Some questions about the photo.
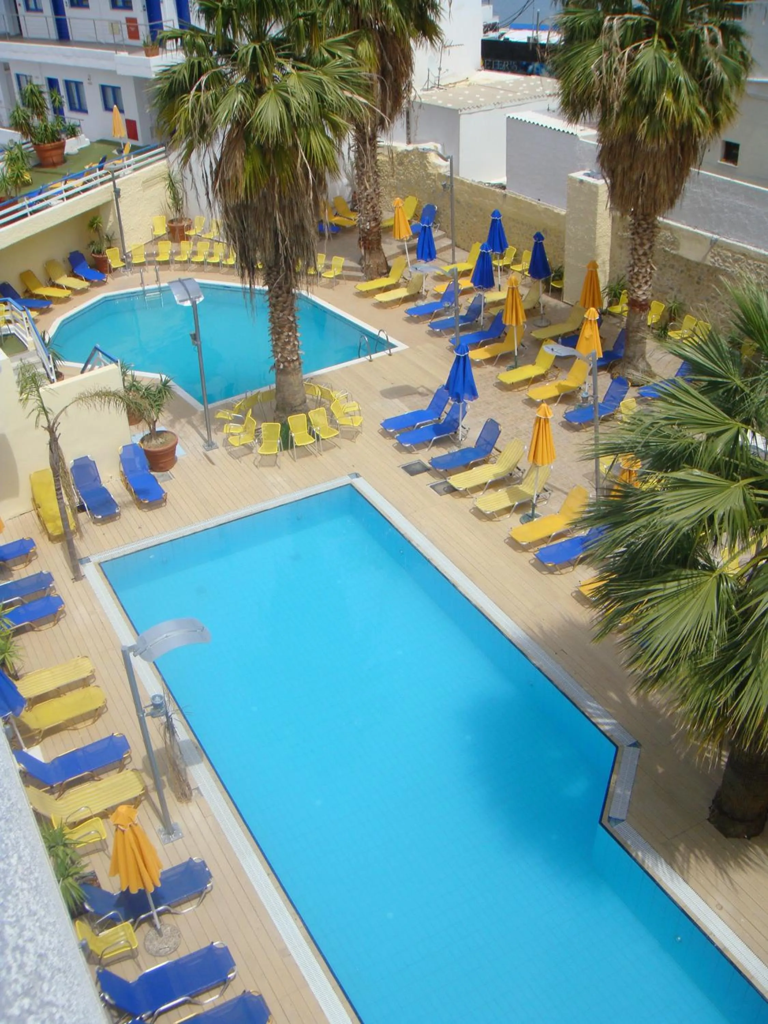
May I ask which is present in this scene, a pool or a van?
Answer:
pool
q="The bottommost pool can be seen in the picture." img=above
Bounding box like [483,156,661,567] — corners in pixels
[102,487,768,1024]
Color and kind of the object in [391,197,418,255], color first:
orange umbrella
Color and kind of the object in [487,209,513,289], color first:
blue umbrella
